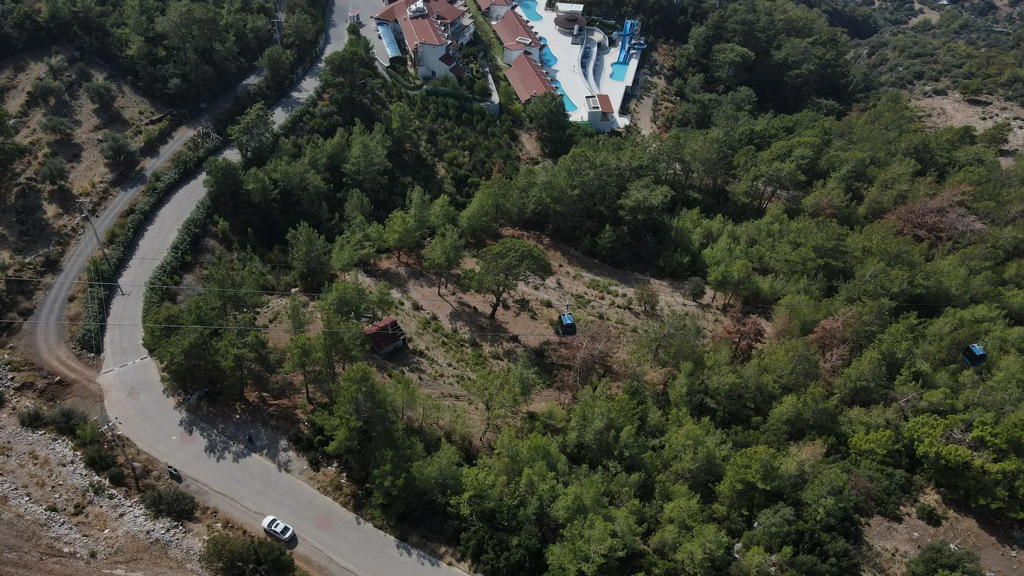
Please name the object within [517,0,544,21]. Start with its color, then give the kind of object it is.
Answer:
blue swimming pool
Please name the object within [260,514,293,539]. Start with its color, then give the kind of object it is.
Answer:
white car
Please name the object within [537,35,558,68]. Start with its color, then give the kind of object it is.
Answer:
blue swimming pool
